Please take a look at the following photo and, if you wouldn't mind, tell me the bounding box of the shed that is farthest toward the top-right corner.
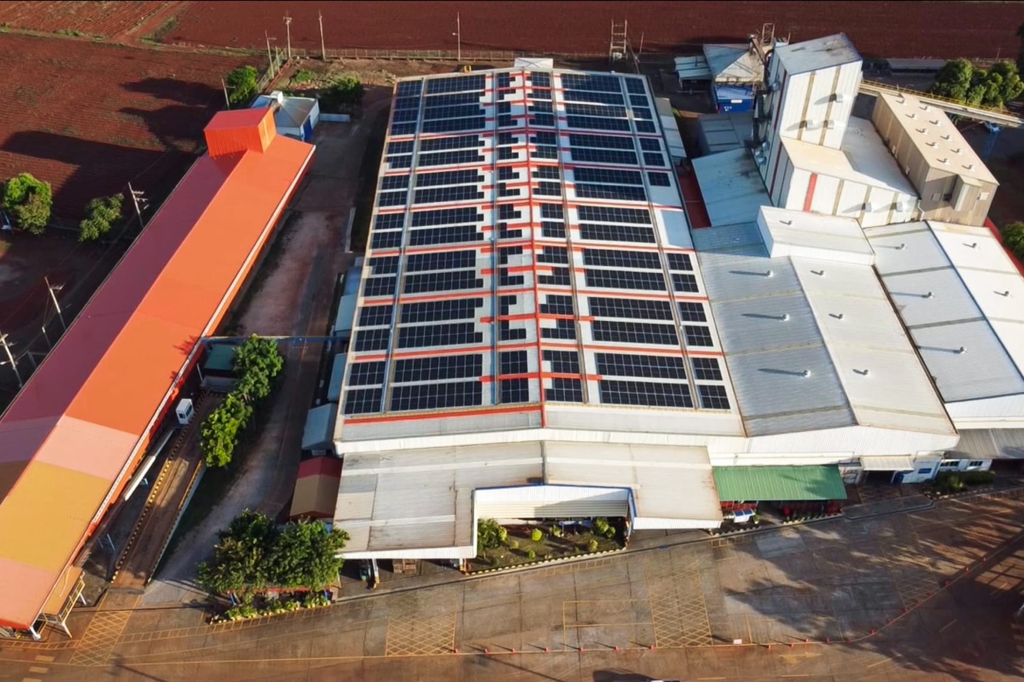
[886,57,947,81]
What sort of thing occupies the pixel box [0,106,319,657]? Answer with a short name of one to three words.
shed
